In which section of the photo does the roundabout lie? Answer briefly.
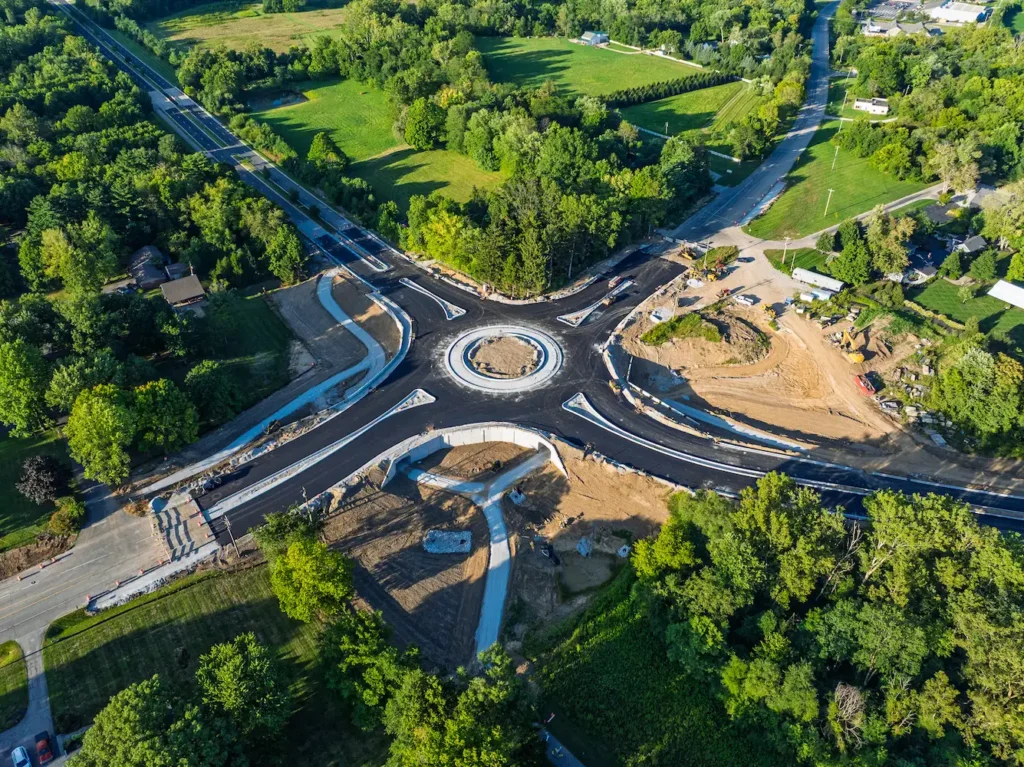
center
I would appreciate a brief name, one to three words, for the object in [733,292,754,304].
vehicle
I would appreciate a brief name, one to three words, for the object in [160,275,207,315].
house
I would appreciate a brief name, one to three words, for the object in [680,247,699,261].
work vehicle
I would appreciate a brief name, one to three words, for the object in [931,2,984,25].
building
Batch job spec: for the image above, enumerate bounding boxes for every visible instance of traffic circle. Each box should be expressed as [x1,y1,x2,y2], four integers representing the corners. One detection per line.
[195,231,1024,543]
